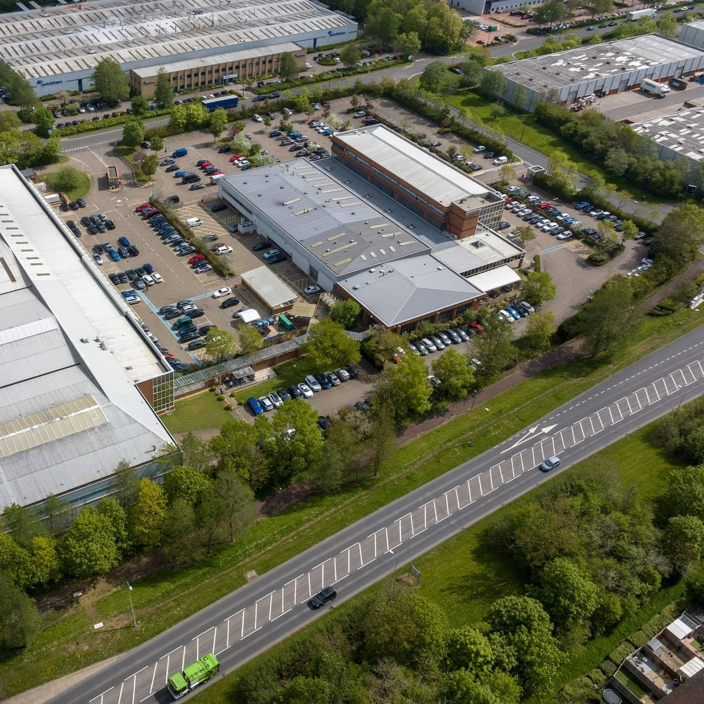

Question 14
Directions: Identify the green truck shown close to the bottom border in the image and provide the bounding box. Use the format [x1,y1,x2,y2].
[160,652,222,704]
